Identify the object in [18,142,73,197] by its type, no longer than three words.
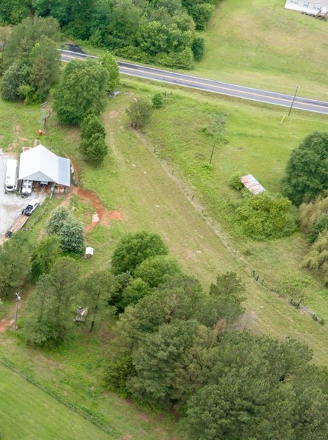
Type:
barn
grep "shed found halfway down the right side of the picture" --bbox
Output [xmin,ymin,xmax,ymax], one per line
[238,175,267,201]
